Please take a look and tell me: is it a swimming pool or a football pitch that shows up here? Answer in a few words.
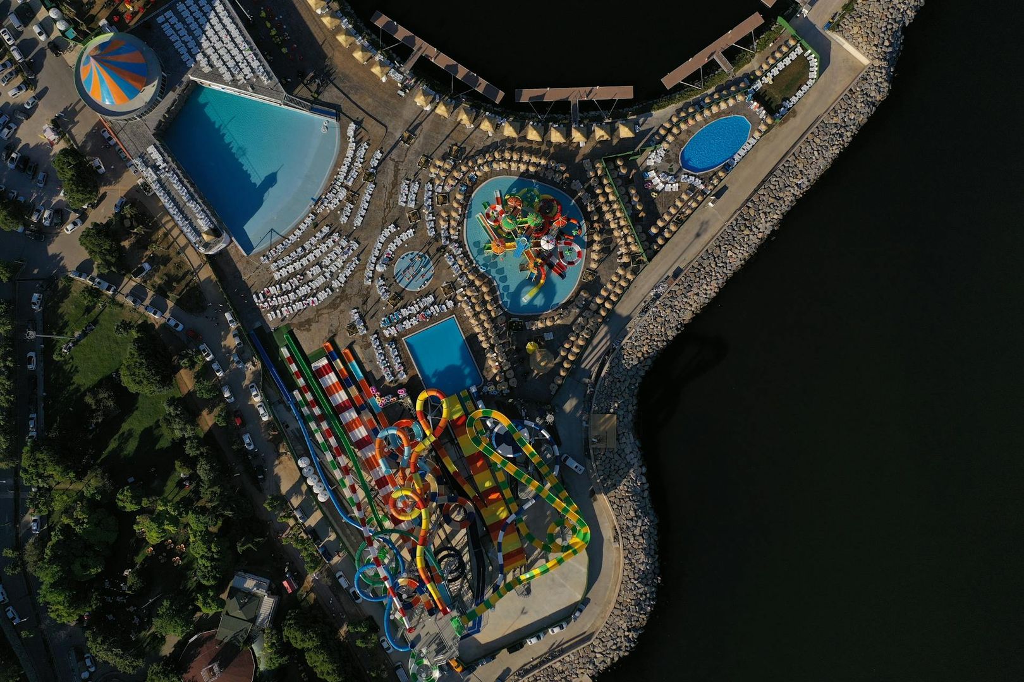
swimming pool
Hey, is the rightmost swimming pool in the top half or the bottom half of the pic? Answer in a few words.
top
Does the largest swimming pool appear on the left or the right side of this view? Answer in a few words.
left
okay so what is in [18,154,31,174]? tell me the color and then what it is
black vehicle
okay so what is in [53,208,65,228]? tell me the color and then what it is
black vehicle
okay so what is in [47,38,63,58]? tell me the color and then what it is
black car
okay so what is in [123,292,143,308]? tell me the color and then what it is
gray car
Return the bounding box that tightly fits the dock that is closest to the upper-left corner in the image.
[369,10,505,104]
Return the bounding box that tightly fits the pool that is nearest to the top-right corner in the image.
[677,112,755,176]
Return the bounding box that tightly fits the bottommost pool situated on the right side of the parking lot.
[404,316,482,407]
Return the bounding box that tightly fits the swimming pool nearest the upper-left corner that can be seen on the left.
[172,86,340,254]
